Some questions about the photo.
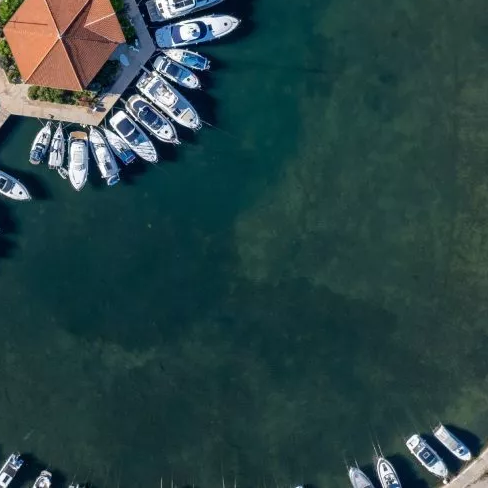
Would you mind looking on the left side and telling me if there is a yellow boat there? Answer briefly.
No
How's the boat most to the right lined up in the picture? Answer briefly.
at an angle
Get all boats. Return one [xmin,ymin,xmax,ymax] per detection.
[56,164,67,178]
[47,122,66,167]
[67,121,90,200]
[144,0,223,20]
[89,124,120,178]
[29,119,52,164]
[0,454,21,488]
[347,461,373,488]
[148,49,217,97]
[402,432,448,478]
[0,169,32,201]
[111,98,166,177]
[130,66,210,135]
[122,94,199,158]
[371,444,405,488]
[433,420,470,462]
[156,47,210,72]
[152,11,244,48]
[32,470,51,488]
[103,125,135,164]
